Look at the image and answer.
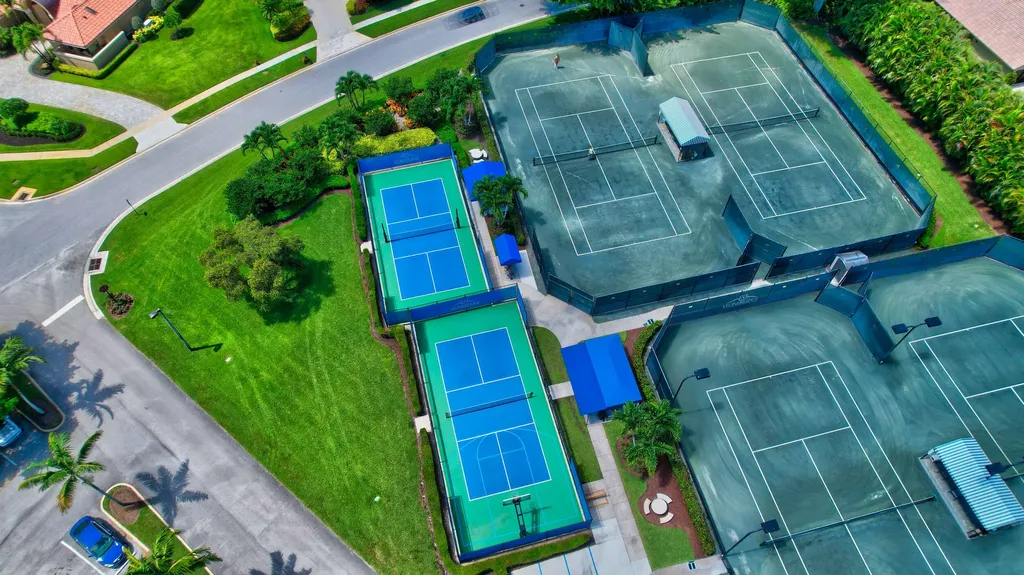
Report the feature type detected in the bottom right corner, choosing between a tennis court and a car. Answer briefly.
tennis court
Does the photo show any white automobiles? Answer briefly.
No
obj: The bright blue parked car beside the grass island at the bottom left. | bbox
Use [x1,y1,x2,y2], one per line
[68,514,125,571]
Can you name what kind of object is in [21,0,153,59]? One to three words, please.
house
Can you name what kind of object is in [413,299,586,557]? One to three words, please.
sports court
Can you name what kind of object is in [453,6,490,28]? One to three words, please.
car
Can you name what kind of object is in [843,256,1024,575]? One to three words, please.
tennis court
